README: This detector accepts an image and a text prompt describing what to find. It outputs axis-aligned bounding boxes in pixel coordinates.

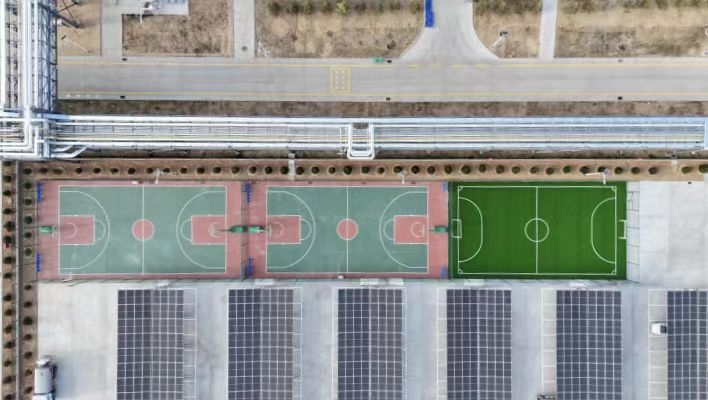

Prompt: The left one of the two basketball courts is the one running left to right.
[37,181,241,280]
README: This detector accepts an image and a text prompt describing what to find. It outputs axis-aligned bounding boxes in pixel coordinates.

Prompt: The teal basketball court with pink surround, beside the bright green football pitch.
[247,181,449,280]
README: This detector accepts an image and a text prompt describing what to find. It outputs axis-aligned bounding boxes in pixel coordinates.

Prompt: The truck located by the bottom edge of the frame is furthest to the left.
[37,350,62,400]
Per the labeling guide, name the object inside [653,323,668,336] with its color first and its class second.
white vehicle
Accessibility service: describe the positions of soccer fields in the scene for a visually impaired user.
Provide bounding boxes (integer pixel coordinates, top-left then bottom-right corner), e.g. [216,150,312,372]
[450,181,628,280]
